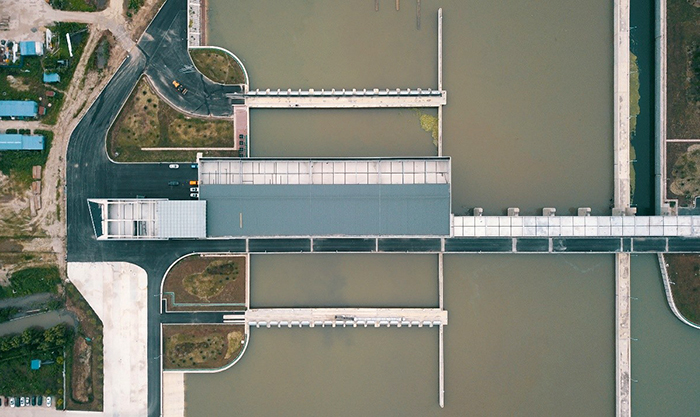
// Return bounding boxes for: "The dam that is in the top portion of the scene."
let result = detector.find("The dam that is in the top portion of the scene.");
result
[247,88,447,109]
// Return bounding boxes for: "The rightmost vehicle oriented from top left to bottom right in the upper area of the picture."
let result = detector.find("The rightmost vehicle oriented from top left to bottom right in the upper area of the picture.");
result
[172,79,189,96]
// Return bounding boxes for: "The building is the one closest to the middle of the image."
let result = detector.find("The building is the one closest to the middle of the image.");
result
[198,153,451,239]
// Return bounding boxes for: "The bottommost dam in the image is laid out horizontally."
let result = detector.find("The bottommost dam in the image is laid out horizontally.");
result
[249,308,447,328]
